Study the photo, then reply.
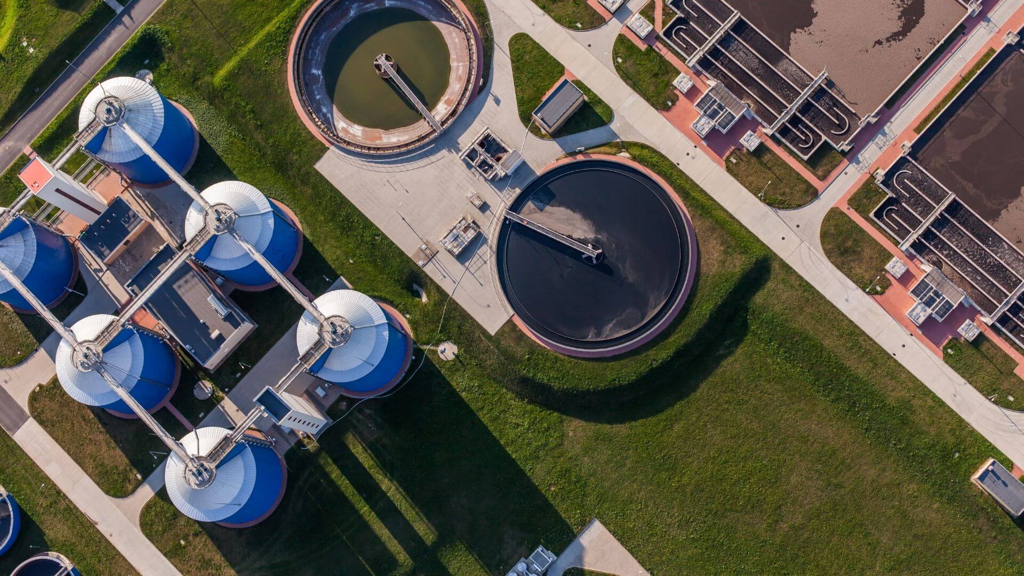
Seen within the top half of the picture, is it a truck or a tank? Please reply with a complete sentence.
You can see a tank within the top half of the picture.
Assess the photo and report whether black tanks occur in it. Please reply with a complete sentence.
Yes, this view includes a black tank.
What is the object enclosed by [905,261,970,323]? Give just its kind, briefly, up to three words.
house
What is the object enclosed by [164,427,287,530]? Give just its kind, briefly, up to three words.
storage tank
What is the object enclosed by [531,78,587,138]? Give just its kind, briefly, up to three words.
building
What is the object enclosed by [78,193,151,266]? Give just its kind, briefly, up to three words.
building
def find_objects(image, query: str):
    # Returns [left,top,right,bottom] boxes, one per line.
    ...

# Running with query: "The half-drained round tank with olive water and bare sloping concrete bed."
[288,0,487,164]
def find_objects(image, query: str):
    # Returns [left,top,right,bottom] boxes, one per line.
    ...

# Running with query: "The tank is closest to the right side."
[487,153,700,361]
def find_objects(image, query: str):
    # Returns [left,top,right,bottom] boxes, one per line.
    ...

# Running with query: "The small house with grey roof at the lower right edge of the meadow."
[971,458,1024,517]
